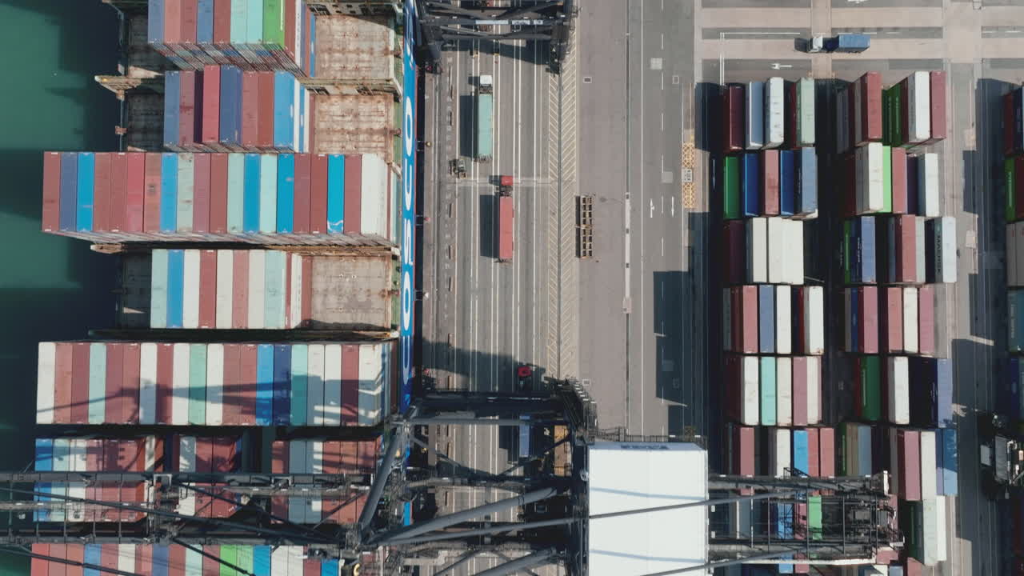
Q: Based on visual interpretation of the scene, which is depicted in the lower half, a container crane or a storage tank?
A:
container crane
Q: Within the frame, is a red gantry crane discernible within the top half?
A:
No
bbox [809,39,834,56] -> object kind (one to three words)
vehicle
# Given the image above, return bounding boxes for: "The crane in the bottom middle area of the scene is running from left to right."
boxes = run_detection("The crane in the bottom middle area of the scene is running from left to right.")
[0,354,921,576]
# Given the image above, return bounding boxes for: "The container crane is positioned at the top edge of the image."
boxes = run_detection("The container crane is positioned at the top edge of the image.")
[419,0,577,87]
